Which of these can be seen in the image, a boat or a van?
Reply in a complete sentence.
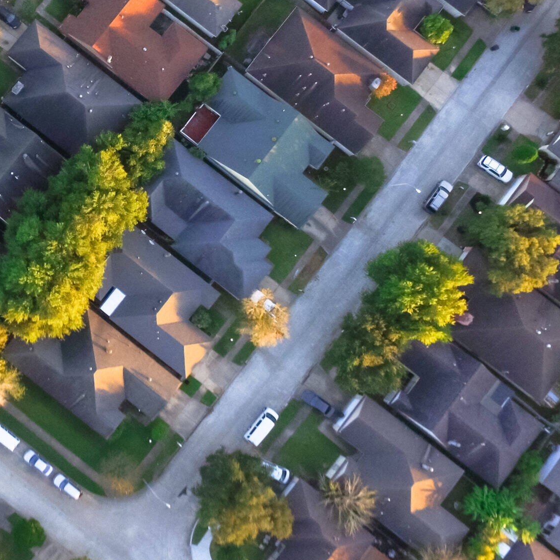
The one in the frame is a van.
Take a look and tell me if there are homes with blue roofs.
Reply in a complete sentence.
Yes, a home with a blue roof can be made out from above.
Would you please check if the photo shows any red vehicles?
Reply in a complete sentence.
No, the photo shows no red vehicle.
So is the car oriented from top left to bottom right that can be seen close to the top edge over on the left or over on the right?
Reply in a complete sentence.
You can find the car oriented from top left to bottom right that can be seen close to the top edge on the left side of the picture.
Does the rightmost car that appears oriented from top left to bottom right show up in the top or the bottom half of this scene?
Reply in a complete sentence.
The top half of the photo is where the rightmost car that appears oriented from top left to bottom right is.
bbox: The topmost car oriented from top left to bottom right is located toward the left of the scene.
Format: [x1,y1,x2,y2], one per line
[0,2,25,32]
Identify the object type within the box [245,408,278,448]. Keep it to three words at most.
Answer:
van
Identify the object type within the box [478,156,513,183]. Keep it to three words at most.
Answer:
car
